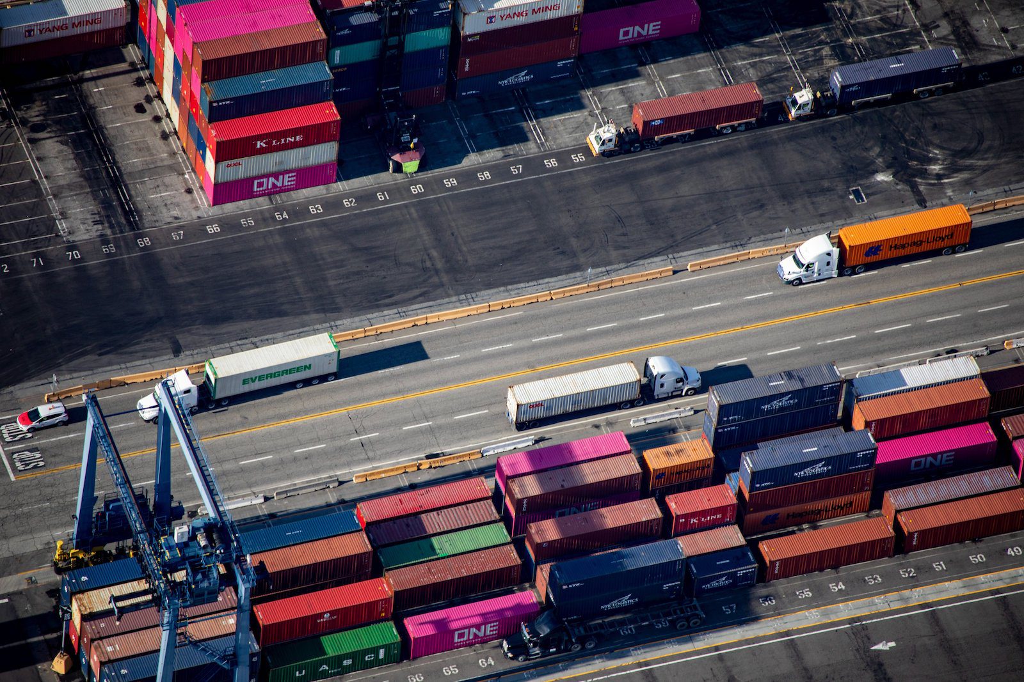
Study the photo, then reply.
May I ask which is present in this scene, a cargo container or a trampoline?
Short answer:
cargo container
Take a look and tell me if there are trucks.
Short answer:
Yes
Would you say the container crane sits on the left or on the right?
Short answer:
left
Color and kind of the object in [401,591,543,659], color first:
pink shipping container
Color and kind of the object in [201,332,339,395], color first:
white shipping container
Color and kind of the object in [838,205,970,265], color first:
orange shipping container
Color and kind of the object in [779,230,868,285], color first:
white truck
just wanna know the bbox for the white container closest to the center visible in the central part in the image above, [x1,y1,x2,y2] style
[504,361,641,424]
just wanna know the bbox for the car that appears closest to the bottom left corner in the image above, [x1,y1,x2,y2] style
[14,400,66,431]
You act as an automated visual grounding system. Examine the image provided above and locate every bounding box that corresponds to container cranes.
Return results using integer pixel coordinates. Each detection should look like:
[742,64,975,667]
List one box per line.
[46,367,274,682]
